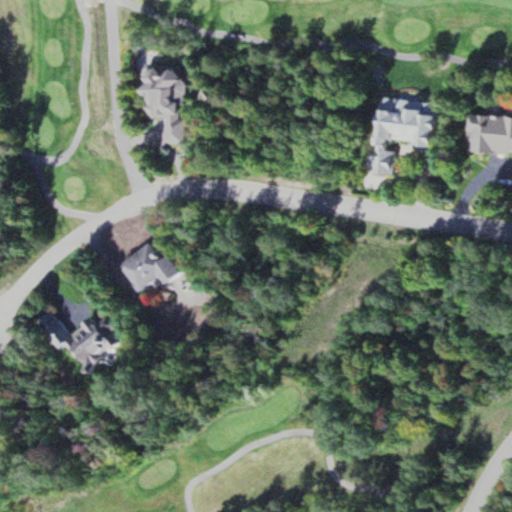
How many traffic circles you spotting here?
0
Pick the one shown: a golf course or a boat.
golf course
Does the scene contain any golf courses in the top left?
Yes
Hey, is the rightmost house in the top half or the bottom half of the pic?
top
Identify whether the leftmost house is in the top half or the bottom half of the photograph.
bottom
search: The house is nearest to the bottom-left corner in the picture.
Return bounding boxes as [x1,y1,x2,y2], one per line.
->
[36,314,118,378]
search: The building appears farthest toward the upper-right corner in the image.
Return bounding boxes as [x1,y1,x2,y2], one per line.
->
[467,112,512,150]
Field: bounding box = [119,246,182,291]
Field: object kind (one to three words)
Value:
house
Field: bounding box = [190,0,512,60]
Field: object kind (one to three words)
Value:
golf course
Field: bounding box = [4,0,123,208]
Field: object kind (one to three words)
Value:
golf course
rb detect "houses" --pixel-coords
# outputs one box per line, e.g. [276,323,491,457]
[370,96,434,172]
[36,314,118,378]
[119,246,182,291]
[467,112,512,150]
[134,64,186,144]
